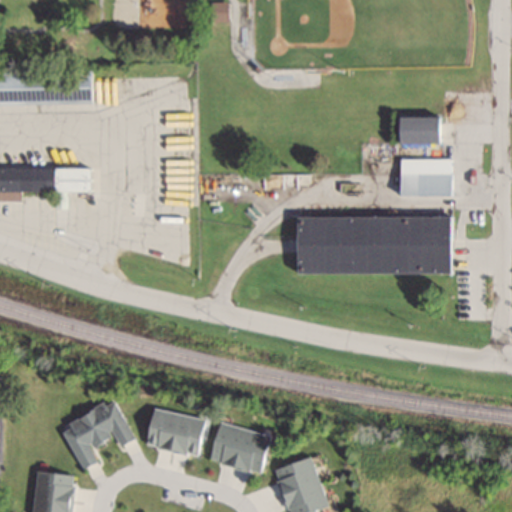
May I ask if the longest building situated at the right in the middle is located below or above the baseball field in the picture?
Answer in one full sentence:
The longest building situated at the right in the middle is below the baseball field.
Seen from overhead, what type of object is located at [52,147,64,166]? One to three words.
vehicle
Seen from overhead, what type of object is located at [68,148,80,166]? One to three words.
vehicle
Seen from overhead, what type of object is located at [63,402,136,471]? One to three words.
house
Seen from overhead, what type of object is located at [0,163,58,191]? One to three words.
building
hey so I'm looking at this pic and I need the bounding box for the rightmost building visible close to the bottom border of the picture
[276,457,330,512]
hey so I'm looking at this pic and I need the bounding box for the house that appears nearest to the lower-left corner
[32,472,76,512]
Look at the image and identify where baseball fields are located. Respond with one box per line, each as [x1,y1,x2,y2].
[240,0,355,74]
